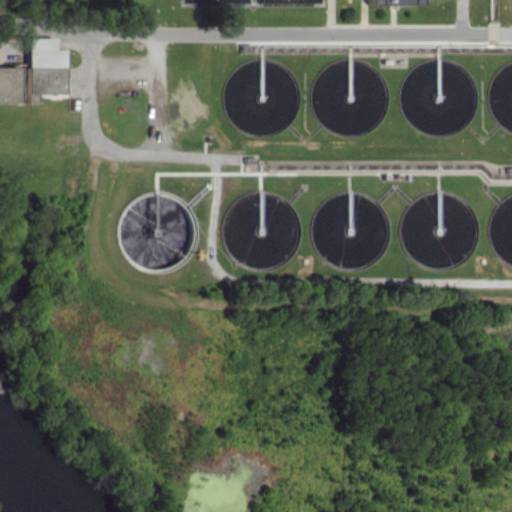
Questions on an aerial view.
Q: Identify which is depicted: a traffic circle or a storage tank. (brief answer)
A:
storage tank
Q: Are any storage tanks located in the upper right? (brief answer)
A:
Yes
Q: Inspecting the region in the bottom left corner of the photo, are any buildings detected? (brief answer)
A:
No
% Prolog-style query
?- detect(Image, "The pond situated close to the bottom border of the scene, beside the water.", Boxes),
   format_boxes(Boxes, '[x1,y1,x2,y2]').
[184,458,252,512]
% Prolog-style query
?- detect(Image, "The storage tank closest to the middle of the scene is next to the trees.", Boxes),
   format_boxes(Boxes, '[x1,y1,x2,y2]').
[222,176,301,272]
